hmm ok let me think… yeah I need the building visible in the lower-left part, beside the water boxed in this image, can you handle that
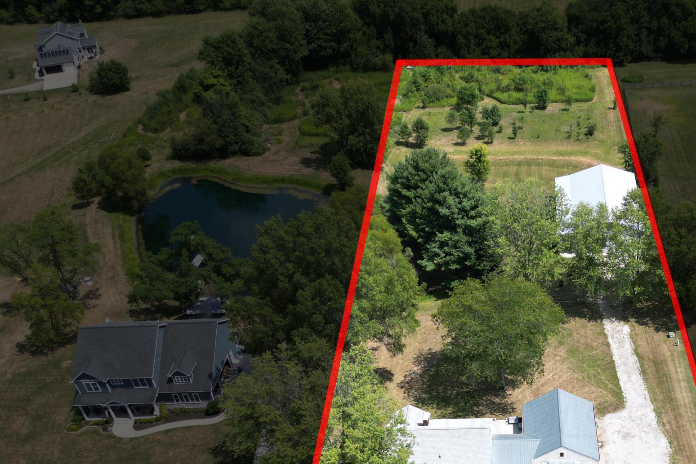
[64,314,247,426]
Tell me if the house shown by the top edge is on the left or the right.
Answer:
left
